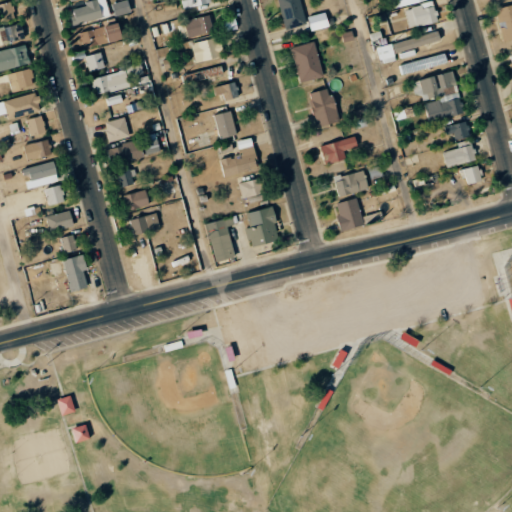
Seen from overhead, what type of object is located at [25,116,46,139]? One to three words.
house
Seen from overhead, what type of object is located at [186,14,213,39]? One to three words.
house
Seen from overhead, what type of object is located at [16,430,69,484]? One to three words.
sports court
